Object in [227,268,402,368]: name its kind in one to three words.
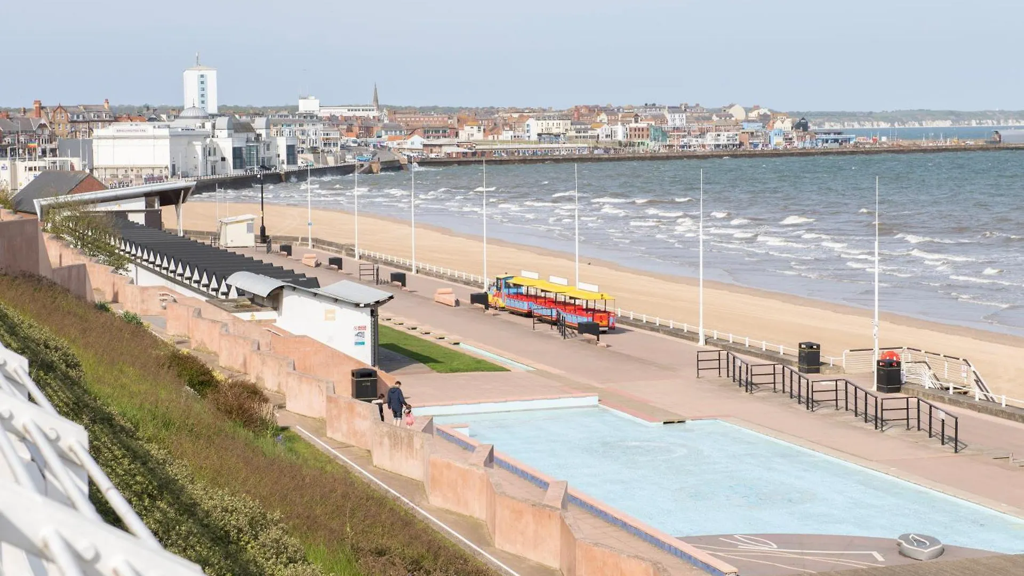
building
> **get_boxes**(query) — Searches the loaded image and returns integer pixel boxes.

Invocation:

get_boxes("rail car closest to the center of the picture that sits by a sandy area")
[502,272,553,319]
